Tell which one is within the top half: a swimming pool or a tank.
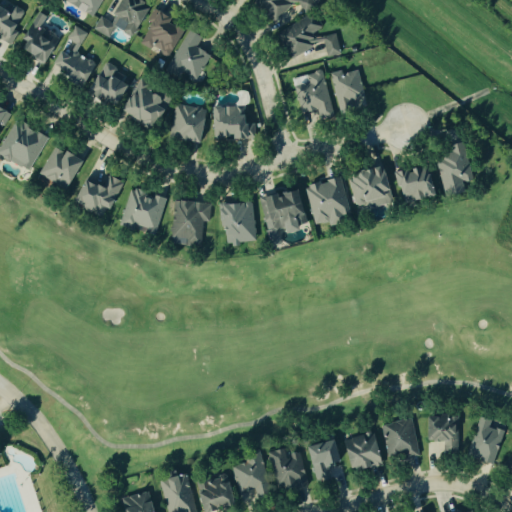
swimming pool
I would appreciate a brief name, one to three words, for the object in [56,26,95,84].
house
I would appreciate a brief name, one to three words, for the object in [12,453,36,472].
swimming pool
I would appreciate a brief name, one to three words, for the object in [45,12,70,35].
swimming pool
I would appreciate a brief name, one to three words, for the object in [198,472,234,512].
house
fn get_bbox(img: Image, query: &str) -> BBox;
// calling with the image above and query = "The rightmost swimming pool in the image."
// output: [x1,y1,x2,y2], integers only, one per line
[370,204,390,222]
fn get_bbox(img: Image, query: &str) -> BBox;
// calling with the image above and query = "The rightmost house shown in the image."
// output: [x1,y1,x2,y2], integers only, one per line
[474,416,507,466]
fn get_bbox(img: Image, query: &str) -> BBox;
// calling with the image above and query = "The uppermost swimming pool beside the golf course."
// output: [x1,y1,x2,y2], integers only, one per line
[0,160,34,180]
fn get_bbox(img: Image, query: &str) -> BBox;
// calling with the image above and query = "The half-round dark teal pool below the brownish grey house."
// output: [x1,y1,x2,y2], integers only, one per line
[276,220,312,248]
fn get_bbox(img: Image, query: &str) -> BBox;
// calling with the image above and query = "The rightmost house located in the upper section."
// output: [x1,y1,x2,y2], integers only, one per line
[438,142,474,196]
